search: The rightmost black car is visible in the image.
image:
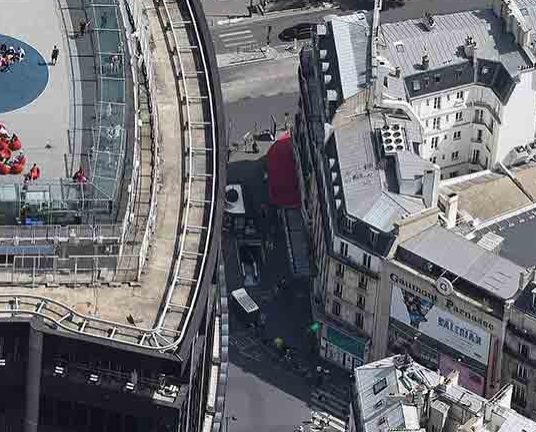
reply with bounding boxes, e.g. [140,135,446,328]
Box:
[276,23,307,43]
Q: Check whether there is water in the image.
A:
No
